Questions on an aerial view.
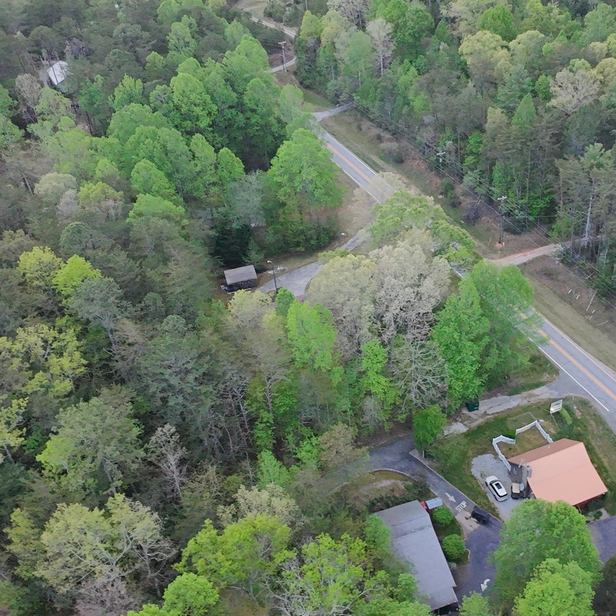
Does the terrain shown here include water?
No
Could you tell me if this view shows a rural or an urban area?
rural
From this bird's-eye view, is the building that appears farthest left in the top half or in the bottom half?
top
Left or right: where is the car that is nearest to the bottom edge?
right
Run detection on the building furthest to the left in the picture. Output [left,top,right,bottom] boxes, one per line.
[47,61,70,92]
